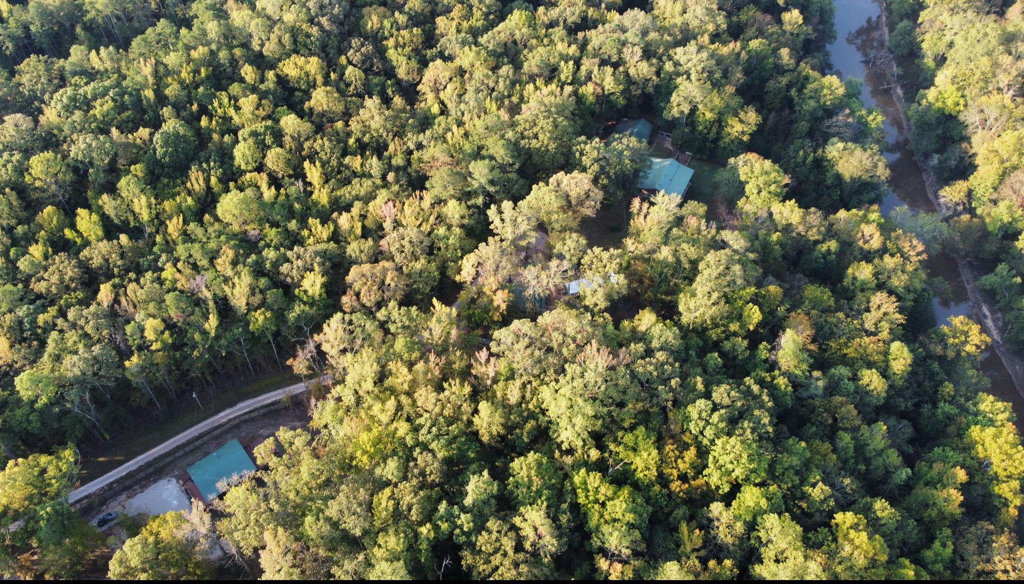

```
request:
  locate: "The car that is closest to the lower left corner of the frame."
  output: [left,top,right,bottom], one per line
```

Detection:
[91,508,119,529]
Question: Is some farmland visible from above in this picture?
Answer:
No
